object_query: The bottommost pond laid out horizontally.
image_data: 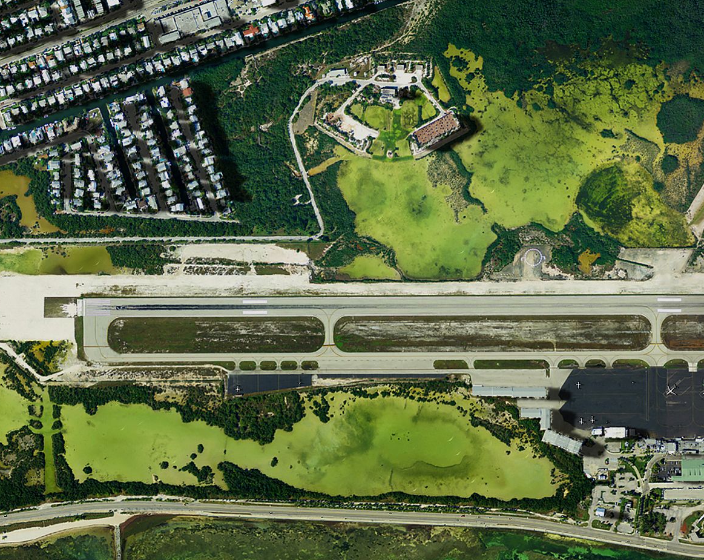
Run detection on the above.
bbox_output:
[61,386,554,501]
